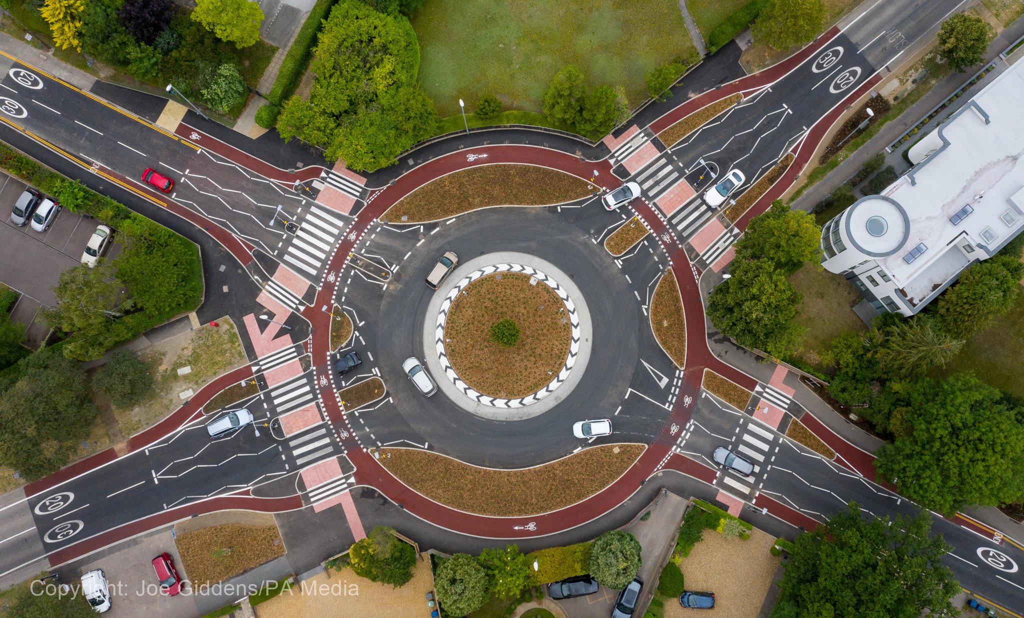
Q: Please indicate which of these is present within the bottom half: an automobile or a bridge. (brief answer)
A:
automobile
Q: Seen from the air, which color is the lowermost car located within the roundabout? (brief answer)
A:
white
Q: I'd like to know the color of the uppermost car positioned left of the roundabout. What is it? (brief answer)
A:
red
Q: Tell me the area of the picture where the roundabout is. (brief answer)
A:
center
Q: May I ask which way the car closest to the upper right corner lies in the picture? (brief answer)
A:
diagonally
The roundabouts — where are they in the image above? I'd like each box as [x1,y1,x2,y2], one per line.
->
[301,145,720,539]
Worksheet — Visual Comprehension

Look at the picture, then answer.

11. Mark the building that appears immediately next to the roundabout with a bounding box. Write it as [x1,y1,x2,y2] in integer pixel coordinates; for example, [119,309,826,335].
[817,54,1024,318]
